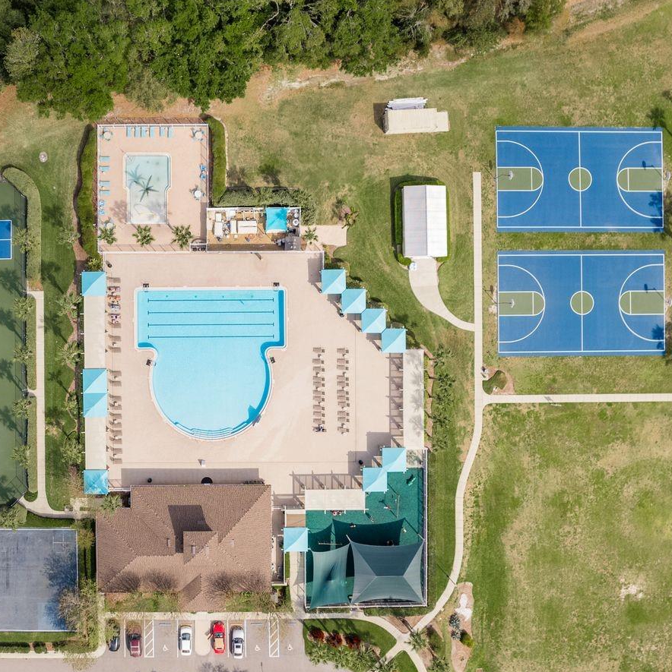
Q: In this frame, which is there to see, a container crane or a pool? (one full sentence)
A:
Of the two, only a pool appears.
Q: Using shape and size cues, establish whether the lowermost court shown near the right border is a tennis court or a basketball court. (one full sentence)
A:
The lowermost court shown near the right border in the image is a basketball court.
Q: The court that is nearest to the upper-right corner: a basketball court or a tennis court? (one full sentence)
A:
It turns out the court that is nearest to the upper-right corner is a basketball court.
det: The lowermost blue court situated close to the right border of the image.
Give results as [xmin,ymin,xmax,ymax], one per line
[497,251,665,356]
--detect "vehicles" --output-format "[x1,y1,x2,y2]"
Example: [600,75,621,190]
[207,622,227,657]
[179,626,194,658]
[230,627,245,661]
[128,627,142,659]
[107,625,120,655]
